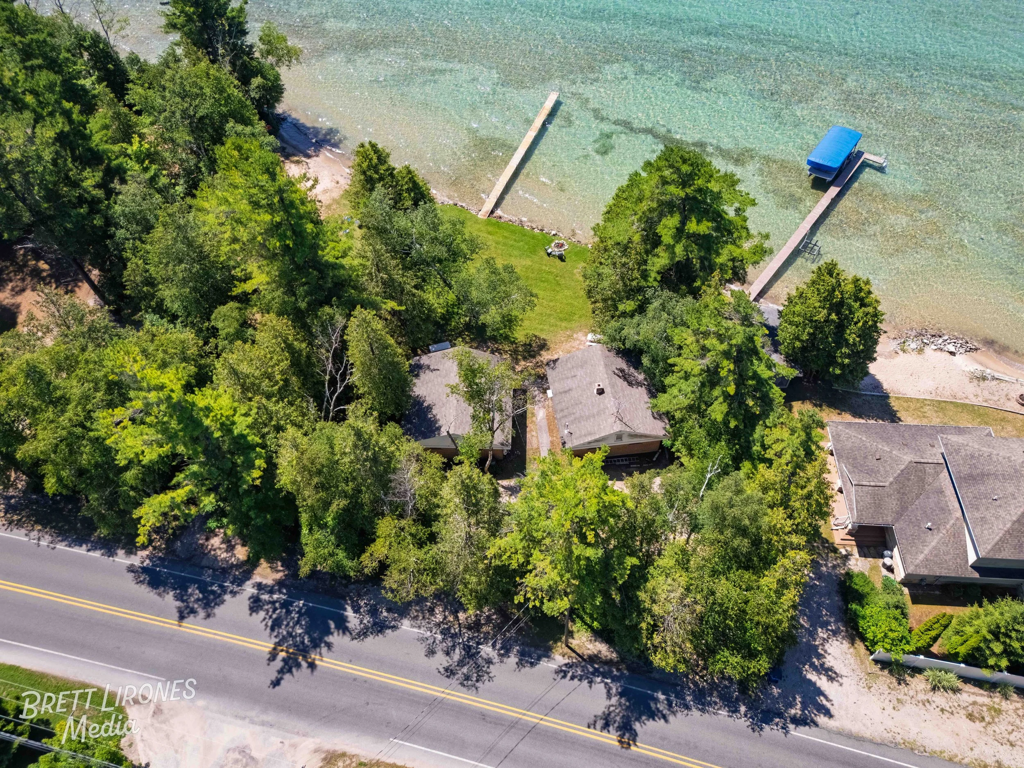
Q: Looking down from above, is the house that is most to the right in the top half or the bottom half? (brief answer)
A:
bottom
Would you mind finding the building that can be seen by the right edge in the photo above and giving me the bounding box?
[822,420,1024,590]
